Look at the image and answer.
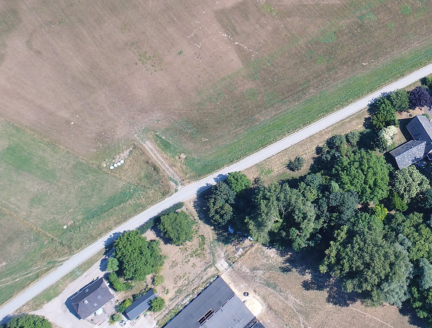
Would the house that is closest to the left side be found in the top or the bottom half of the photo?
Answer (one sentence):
You can find the house that is closest to the left side in the bottom half.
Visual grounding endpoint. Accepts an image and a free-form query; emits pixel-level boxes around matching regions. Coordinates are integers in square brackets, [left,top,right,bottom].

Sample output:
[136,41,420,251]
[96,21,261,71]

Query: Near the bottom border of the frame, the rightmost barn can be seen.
[161,276,254,328]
